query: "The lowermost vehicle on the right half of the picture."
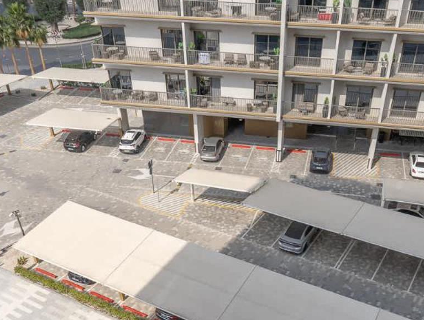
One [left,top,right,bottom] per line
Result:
[279,222,326,253]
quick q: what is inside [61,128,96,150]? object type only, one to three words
car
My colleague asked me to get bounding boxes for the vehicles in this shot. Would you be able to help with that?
[279,222,326,253]
[311,143,336,172]
[117,129,145,154]
[68,272,97,286]
[61,128,96,150]
[159,310,181,320]
[196,134,227,161]
[408,148,424,177]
